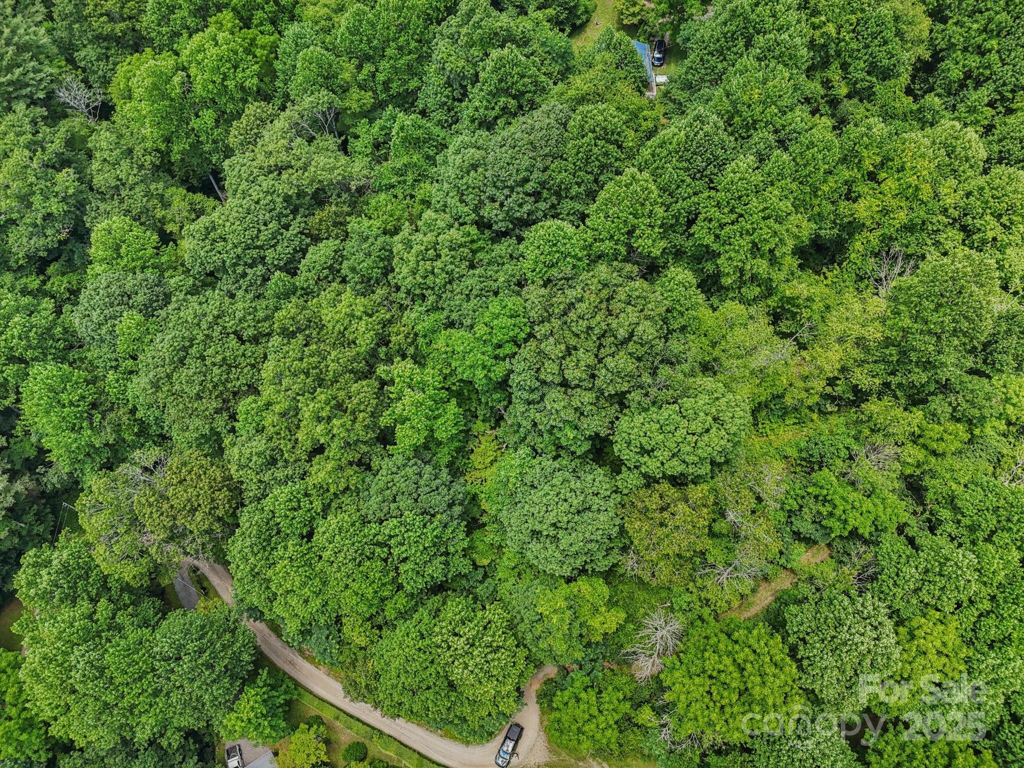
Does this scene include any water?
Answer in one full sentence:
No, there's no water in this view.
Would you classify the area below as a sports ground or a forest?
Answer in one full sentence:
The picture captures a forest.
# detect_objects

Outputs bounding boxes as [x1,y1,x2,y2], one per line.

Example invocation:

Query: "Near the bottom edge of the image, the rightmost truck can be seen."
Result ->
[494,720,524,768]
